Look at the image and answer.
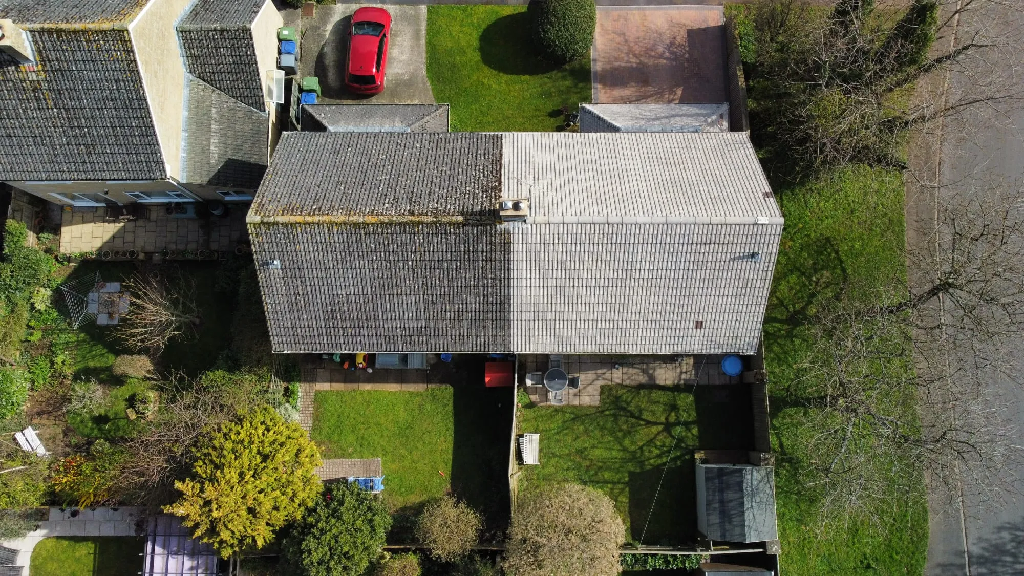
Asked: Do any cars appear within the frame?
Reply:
Yes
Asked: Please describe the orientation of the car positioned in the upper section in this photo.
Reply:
vertically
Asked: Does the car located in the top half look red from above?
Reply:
Yes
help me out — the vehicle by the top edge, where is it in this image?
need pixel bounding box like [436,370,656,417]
[345,6,392,96]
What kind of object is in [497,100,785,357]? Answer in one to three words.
house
